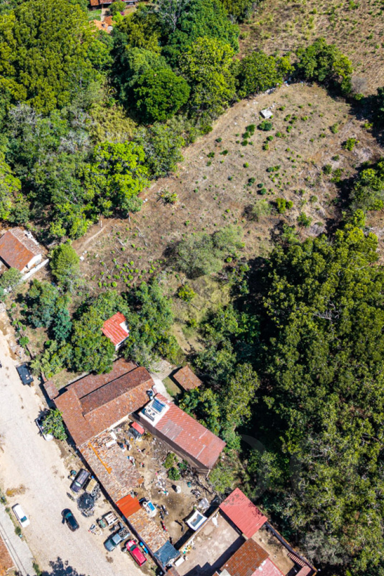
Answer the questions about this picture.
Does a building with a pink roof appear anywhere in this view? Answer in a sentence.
Yes, the frame does contain a building with a pink roof.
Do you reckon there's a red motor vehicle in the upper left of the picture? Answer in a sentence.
No, no red motor vehicle is visible in the upper left of the picture.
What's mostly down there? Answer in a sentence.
What you mostly see from above here is trees.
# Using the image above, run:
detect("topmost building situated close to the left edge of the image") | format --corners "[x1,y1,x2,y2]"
[0,229,44,278]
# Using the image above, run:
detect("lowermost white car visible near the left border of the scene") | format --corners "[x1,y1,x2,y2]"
[12,502,30,530]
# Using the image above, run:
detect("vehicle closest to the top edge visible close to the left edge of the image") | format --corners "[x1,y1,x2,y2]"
[16,361,32,386]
